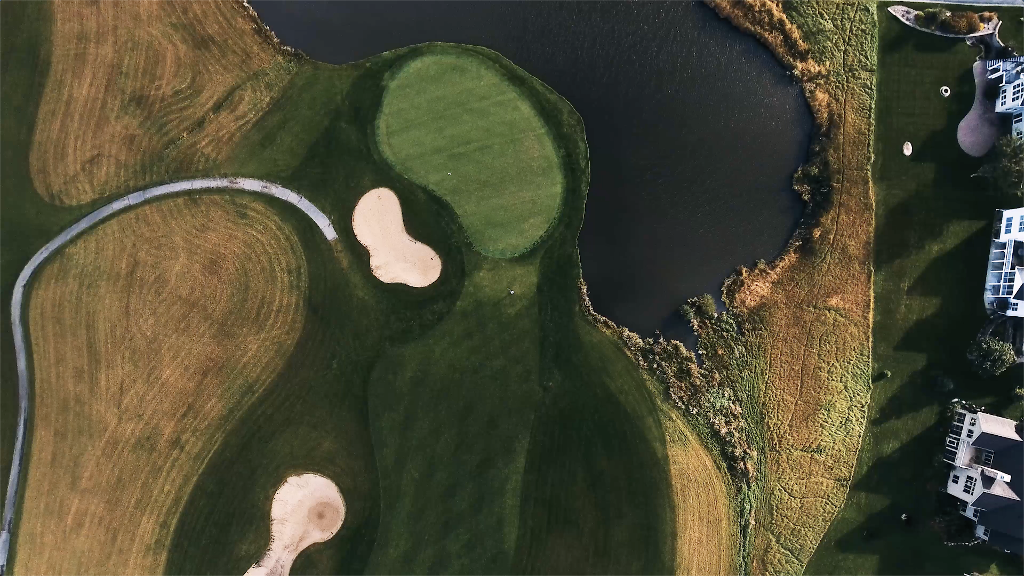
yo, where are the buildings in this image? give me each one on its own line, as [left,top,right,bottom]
[941,410,1024,557]
[984,209,1024,321]
[980,50,1024,149]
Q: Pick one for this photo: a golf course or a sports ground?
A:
golf course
